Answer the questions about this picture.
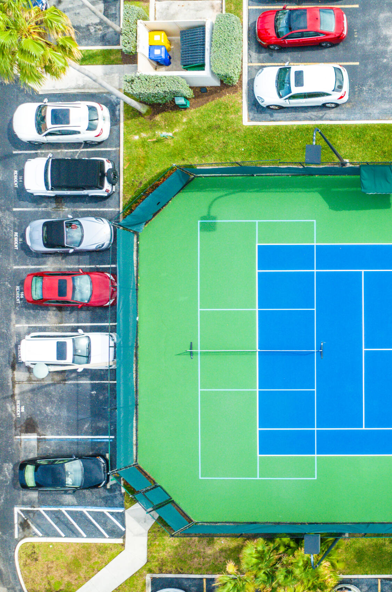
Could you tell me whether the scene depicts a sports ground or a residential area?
sports ground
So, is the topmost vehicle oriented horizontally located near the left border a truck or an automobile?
automobile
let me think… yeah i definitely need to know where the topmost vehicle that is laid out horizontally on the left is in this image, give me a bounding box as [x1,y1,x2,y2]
[12,97,113,145]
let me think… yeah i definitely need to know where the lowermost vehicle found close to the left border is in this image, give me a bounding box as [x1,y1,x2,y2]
[15,451,113,495]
